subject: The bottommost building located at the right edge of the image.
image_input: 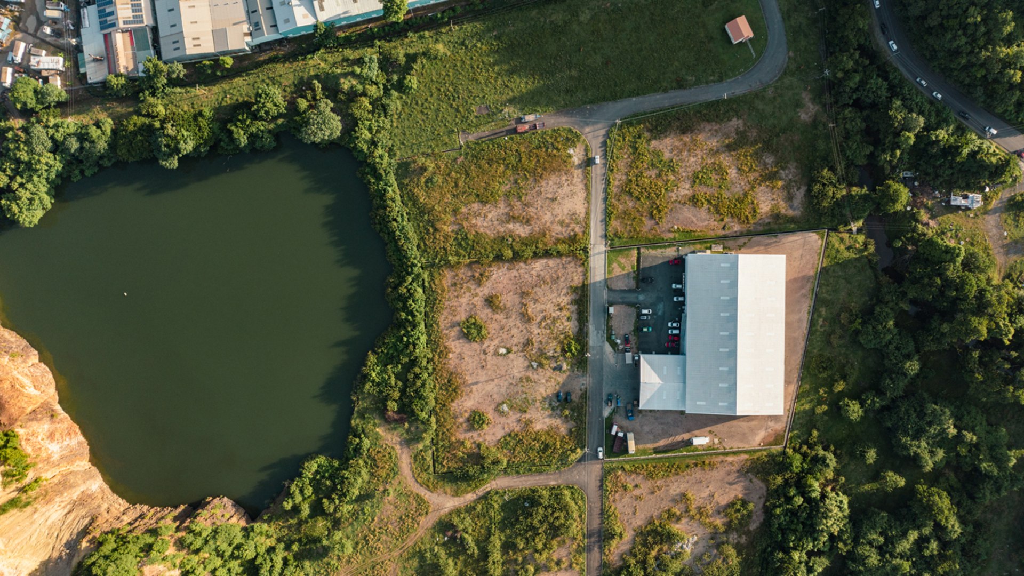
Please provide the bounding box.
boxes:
[951,191,985,209]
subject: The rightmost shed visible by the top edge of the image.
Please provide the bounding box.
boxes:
[726,16,753,43]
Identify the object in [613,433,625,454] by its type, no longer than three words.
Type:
vehicle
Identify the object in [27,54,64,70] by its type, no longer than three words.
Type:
vehicle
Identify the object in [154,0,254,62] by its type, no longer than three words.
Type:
building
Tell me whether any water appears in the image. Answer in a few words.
Yes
